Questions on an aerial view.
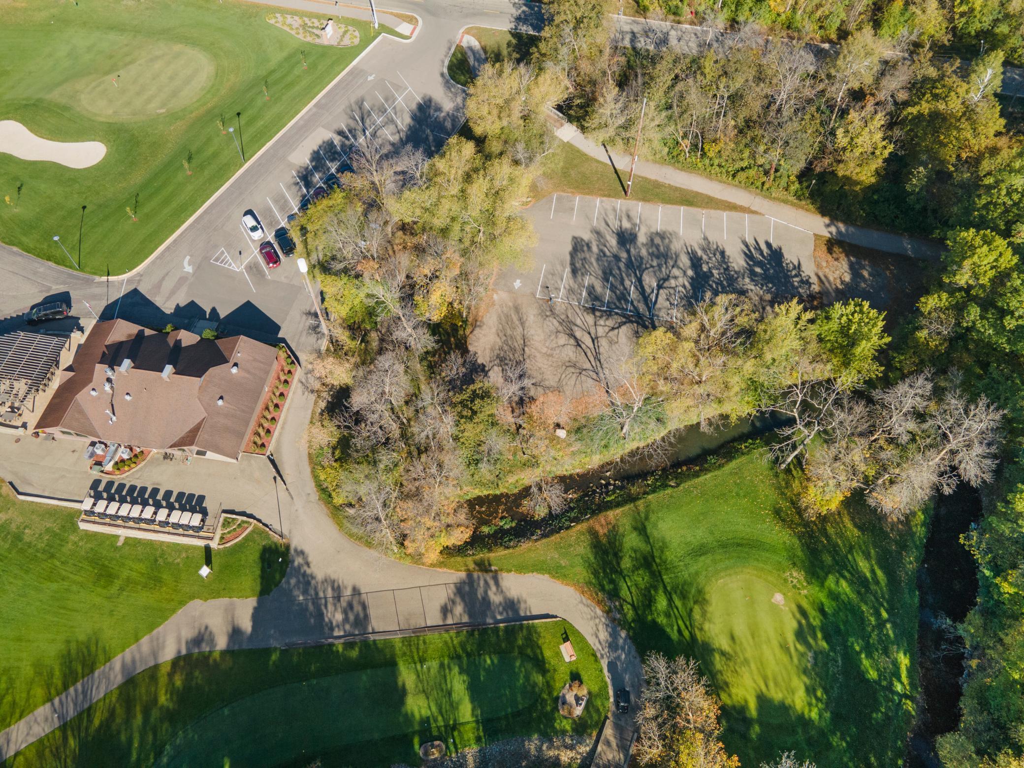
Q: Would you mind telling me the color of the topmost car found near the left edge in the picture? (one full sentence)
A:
In this view, the topmost car found near the left edge is black.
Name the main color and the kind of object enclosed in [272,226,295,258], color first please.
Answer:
black car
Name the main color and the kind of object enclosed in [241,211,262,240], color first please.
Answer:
white car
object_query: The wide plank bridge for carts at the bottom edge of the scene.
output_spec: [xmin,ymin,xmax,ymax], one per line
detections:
[586,711,640,768]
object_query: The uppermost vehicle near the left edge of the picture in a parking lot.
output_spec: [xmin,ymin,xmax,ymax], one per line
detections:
[21,299,68,323]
